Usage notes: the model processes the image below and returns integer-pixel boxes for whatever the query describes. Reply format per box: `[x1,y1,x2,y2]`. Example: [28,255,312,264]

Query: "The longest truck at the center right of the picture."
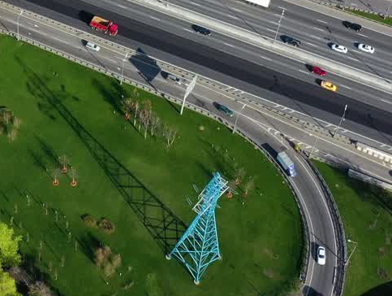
[275,149,298,180]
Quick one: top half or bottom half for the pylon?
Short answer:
bottom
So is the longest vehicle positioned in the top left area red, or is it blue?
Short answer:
red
